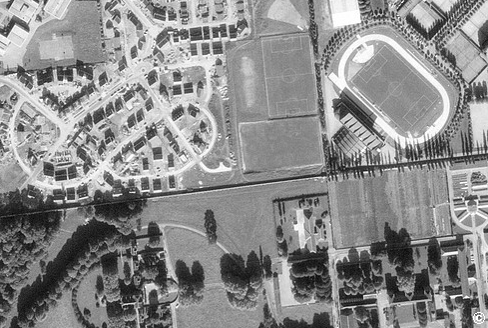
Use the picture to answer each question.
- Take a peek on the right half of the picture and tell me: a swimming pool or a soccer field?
soccer field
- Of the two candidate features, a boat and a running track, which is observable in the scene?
running track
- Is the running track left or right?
right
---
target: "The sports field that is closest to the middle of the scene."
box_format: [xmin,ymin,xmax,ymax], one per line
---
[239,117,323,171]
